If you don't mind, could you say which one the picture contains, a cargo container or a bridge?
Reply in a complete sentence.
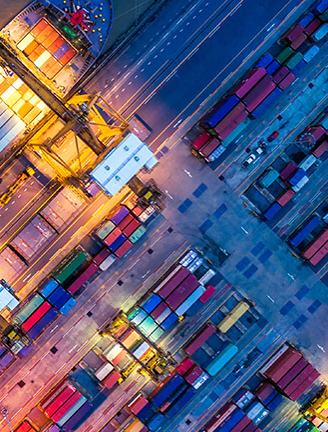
Visible in the photo is a cargo container.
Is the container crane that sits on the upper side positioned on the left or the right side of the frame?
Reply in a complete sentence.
The container crane that sits on the upper side appears in the left half of the scene.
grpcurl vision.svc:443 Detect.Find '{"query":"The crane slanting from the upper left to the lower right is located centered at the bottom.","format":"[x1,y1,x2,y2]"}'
[98,310,179,386]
